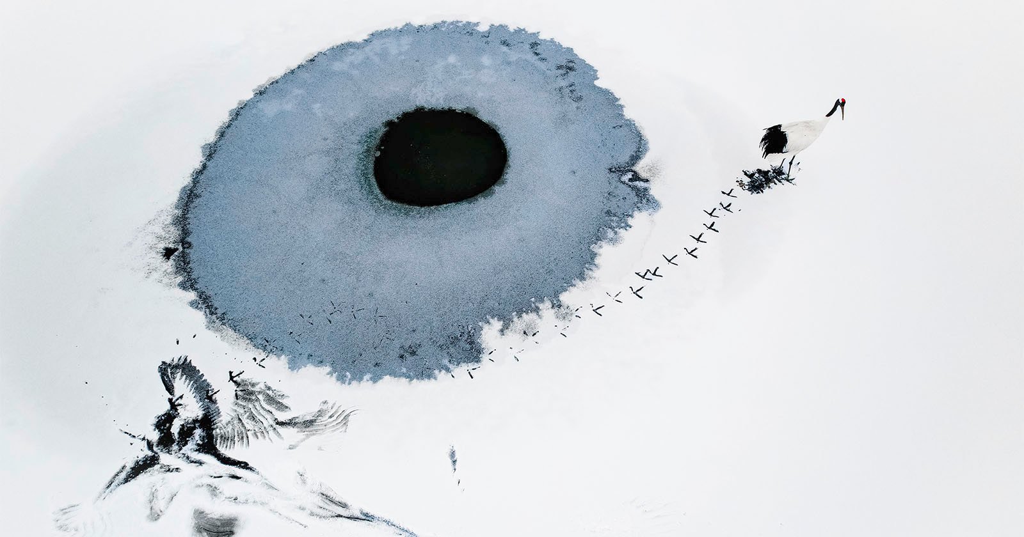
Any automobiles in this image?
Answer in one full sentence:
No, the photo shows no automobile.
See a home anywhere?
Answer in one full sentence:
No, the frame has no home in it.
